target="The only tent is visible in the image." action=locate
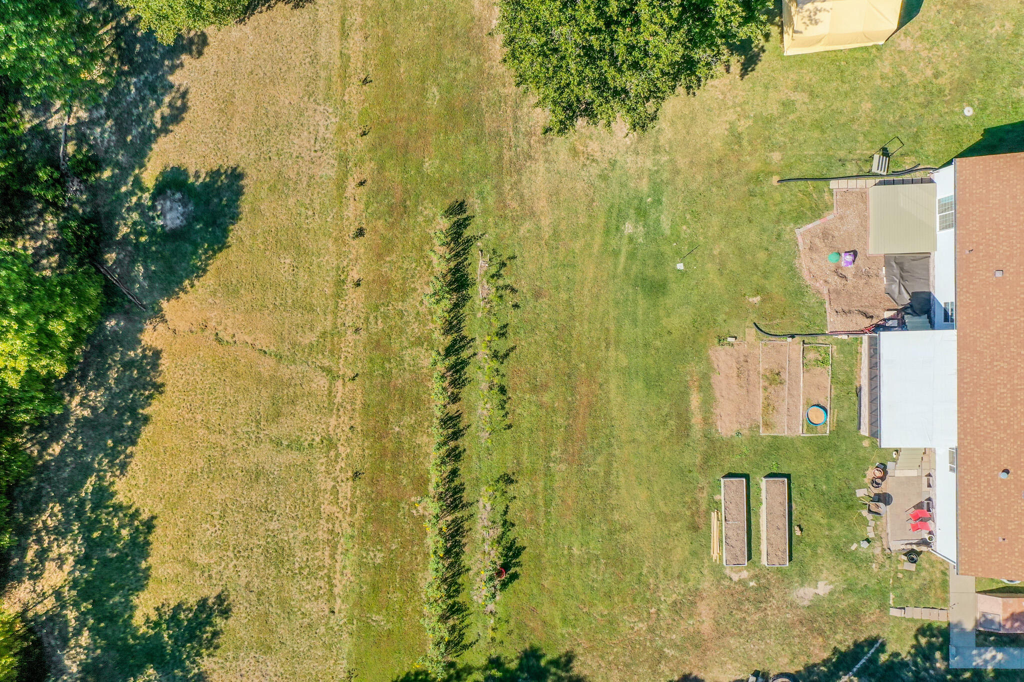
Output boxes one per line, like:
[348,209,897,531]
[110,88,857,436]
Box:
[782,0,905,54]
